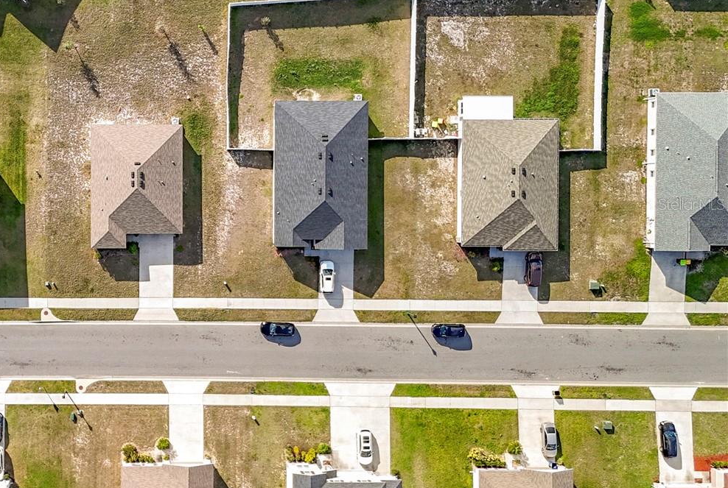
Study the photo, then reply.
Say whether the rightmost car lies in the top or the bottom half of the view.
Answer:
bottom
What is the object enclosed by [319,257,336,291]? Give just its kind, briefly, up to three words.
car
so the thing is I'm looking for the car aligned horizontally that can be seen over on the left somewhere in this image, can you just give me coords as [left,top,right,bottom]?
[259,320,294,337]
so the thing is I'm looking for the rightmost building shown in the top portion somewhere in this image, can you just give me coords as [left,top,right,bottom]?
[645,92,728,251]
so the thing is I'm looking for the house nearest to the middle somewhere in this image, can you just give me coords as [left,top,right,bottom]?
[273,100,369,250]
